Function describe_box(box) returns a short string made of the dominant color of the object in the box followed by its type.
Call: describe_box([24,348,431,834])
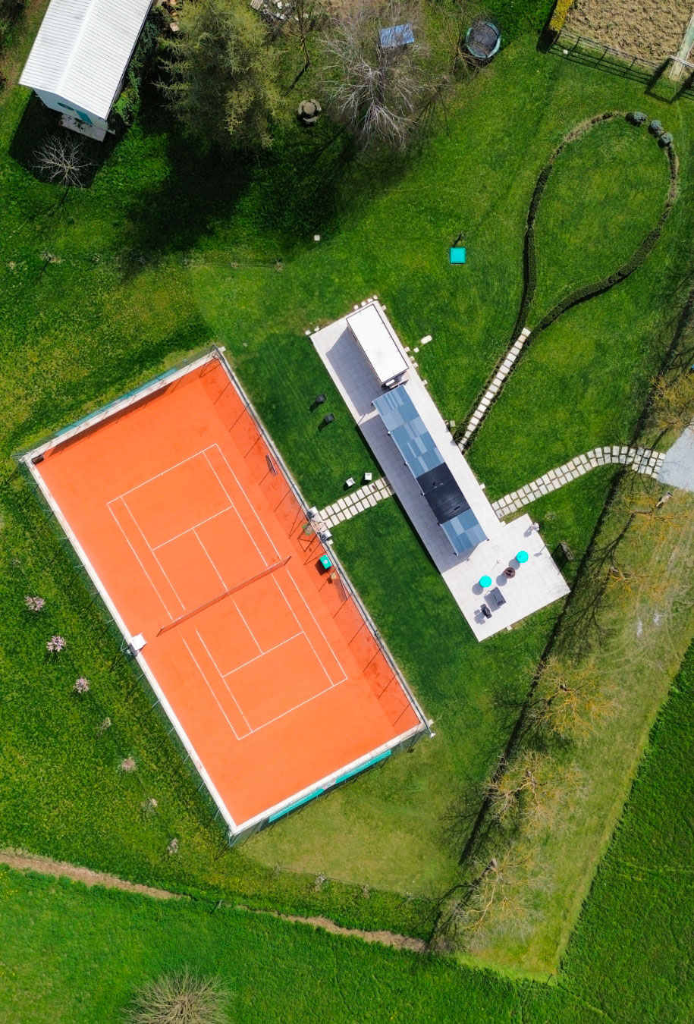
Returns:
orange tennis court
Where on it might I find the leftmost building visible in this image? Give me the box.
[19,0,163,131]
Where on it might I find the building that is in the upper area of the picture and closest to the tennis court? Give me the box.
[346,305,408,387]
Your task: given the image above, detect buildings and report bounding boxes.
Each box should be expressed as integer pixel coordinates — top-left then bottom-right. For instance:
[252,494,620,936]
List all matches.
[346,305,408,387]
[19,0,163,131]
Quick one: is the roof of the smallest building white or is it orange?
white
